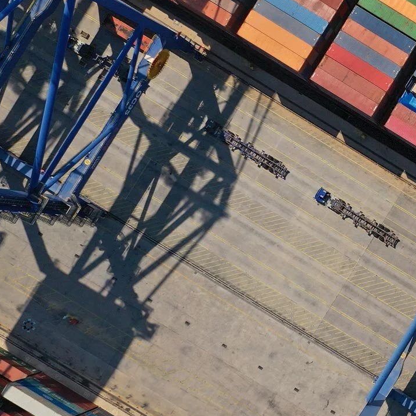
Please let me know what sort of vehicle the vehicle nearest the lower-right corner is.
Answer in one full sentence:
The vehicle nearest the lower-right corner in the image is a truck.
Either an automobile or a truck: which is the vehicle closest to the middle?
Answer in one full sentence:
The vehicle closest to the middle can be classified as a truck.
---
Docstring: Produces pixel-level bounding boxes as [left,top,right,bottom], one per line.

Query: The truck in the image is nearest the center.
[199,116,288,180]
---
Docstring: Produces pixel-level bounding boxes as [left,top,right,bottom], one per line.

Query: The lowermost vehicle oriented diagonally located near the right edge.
[311,185,399,249]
